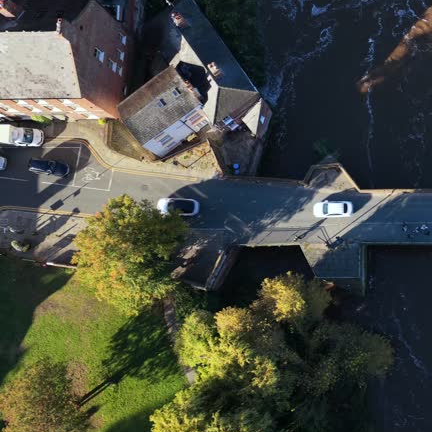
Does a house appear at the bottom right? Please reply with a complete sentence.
No, the scene shows no house at the bottom right.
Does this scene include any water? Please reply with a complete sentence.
Yes, water can be seen from above here.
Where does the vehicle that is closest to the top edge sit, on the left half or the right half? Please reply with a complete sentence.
You can find the vehicle that is closest to the top edge on the left side of the picture.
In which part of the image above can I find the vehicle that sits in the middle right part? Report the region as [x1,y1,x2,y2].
[314,199,353,218]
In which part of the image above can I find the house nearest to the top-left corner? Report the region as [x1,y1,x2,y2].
[0,0,132,122]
